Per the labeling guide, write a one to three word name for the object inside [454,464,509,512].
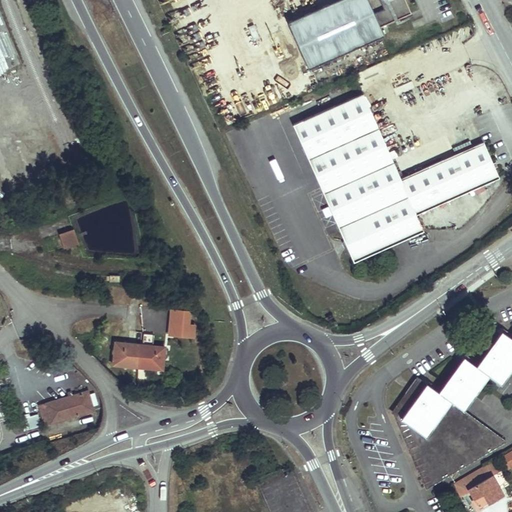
house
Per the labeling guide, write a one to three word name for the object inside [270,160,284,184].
vehicle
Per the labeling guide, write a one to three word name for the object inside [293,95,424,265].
warehouse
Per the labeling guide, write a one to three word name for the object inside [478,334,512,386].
building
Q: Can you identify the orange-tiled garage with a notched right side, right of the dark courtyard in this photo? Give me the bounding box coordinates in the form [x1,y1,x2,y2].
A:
[168,310,196,339]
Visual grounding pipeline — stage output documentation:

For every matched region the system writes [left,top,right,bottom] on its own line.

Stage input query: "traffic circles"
[197,272,370,469]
